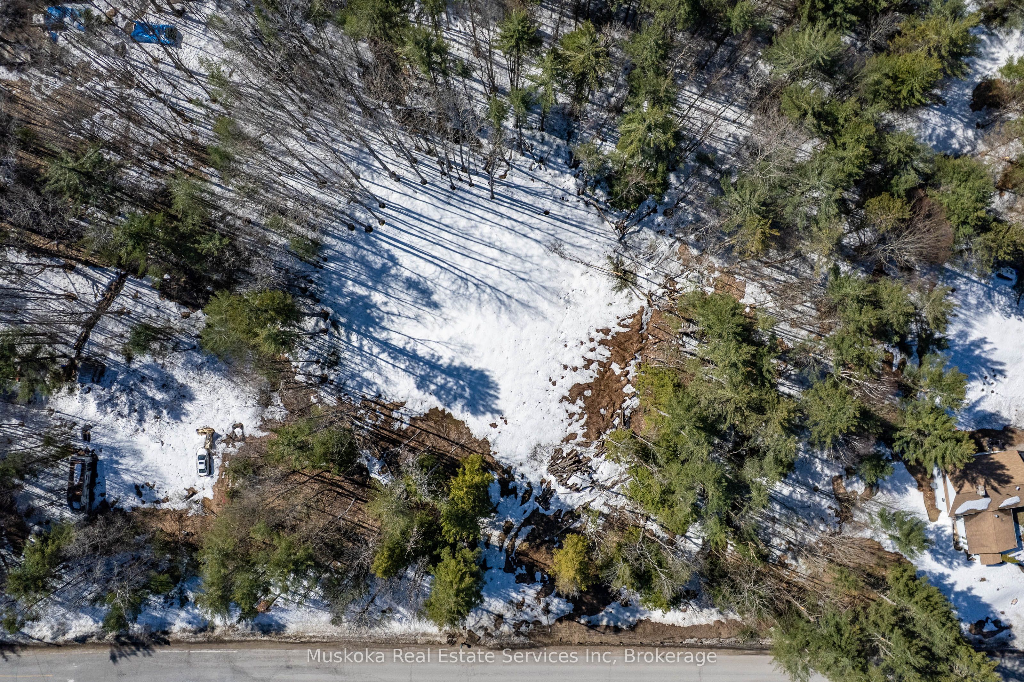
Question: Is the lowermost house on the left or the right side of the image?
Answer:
right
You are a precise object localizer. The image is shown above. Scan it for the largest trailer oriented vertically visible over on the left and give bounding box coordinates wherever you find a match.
[62,448,94,518]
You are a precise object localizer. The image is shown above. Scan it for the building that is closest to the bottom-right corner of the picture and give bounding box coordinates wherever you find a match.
[936,454,1024,561]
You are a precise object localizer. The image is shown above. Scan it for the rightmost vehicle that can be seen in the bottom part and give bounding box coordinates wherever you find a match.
[194,447,210,477]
